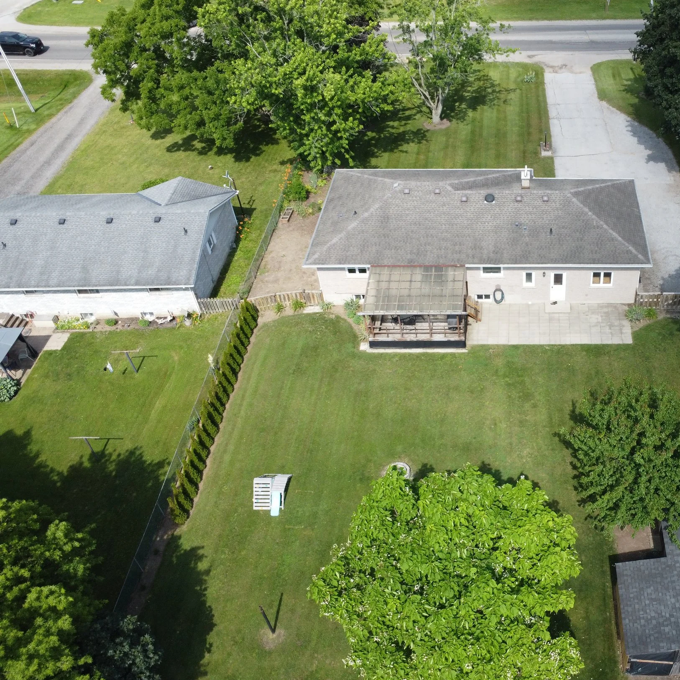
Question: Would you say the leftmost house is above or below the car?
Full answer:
You can see the leftmost house below the car in the frame.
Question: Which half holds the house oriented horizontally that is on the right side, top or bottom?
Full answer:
You can find the house oriented horizontally that is on the right side in the top half.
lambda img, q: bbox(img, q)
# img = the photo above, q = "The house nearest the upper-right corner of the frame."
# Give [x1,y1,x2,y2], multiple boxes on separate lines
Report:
[302,164,653,304]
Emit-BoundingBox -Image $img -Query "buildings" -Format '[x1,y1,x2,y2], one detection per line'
[618,514,680,672]
[0,174,244,313]
[302,164,653,304]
